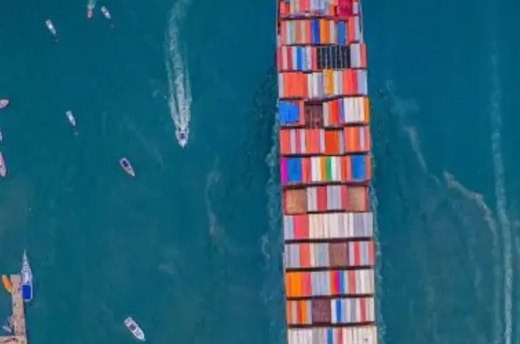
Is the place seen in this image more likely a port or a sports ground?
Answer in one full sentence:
The area seen from above is a port.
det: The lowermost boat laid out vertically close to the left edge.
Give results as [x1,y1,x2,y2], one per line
[16,250,31,303]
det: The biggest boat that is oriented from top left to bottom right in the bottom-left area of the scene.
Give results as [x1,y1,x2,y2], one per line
[123,315,145,341]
